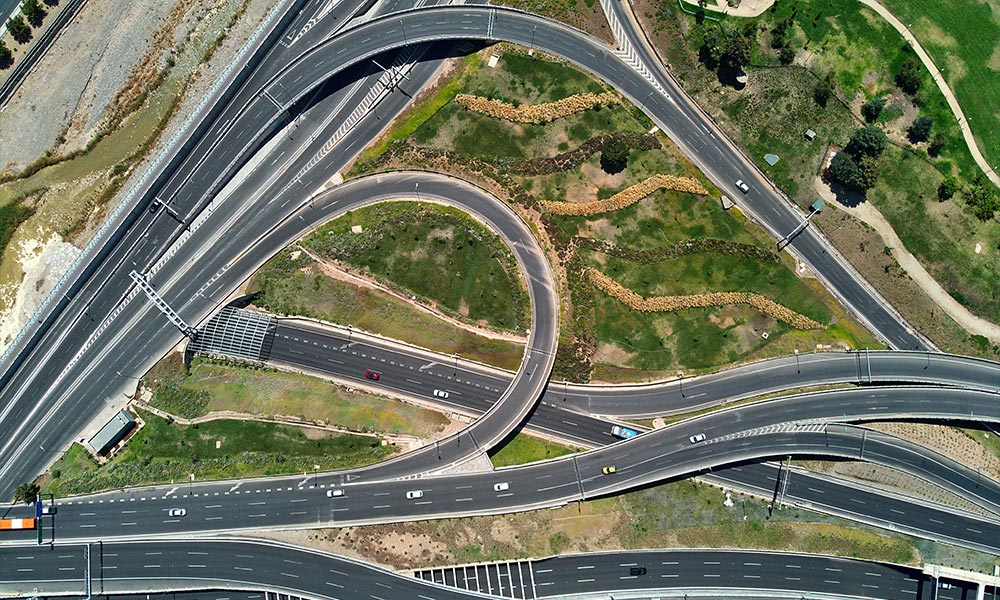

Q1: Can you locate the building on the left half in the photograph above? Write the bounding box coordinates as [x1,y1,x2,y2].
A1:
[89,408,143,453]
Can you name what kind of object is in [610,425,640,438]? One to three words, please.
vehicle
